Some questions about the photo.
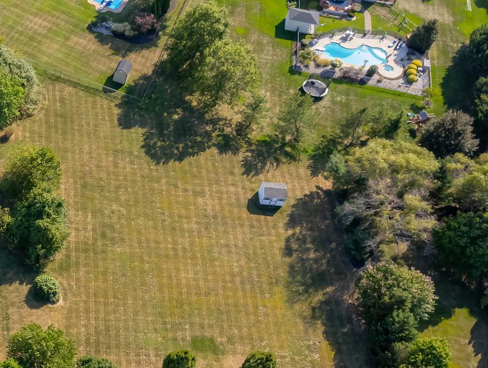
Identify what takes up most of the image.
grass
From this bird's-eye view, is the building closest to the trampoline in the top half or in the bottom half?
top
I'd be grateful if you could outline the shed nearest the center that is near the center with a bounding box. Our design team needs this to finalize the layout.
[259,185,292,207]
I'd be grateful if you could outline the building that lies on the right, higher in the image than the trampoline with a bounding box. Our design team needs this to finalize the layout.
[286,7,327,39]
